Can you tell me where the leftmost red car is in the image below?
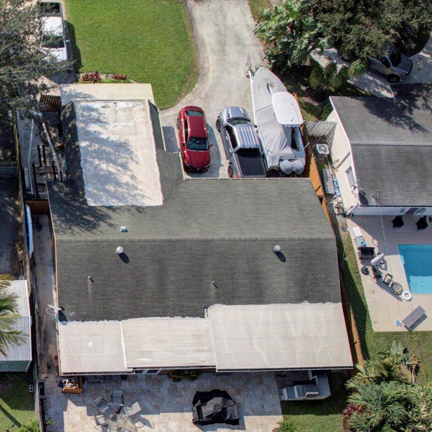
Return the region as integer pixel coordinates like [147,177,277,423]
[176,106,219,171]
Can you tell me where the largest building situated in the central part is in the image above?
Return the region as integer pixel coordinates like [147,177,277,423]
[46,84,354,384]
